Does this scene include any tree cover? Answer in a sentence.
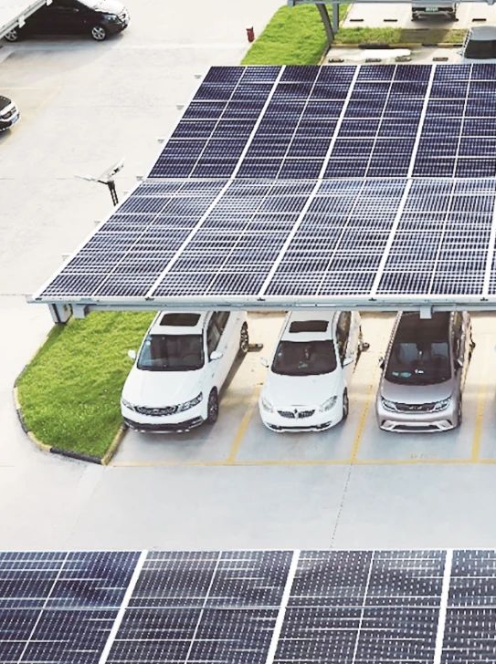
No, there is no tree cover in the image.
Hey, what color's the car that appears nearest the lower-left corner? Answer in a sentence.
From above, the car that appears nearest the lower-left corner appears white.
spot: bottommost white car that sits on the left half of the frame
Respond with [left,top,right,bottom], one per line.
[117,313,247,435]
